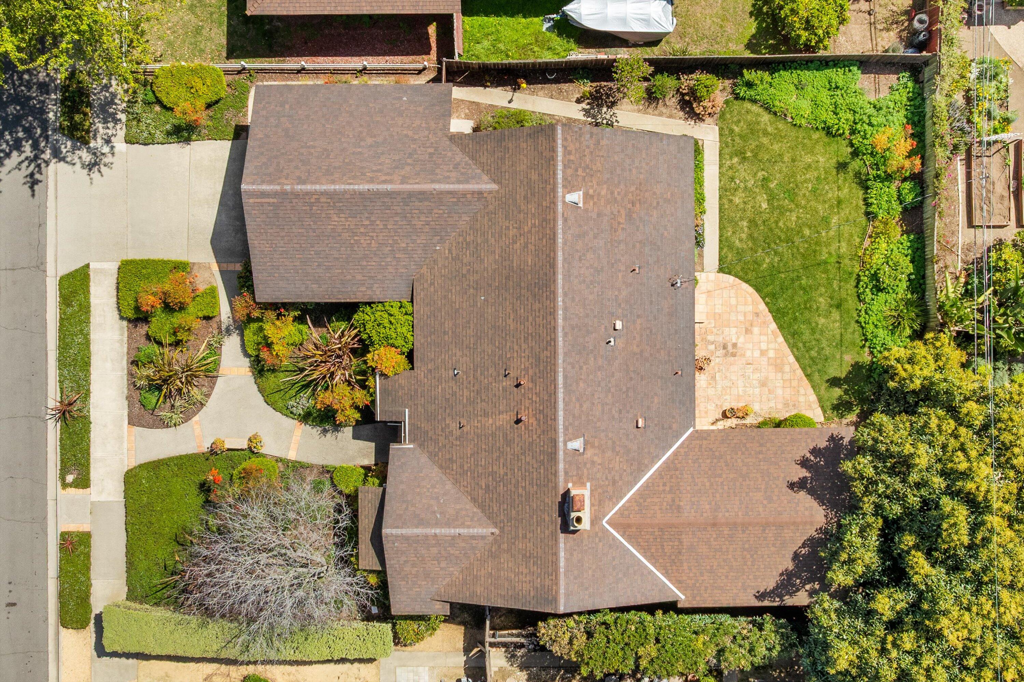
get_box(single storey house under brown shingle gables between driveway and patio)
[241,85,874,615]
